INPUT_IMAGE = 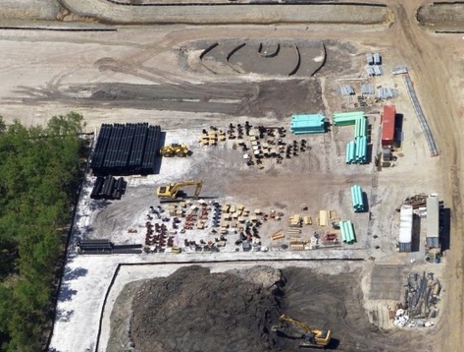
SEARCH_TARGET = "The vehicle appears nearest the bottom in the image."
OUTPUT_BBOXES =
[269,316,331,348]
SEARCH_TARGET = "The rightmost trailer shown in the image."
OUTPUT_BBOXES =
[426,190,440,247]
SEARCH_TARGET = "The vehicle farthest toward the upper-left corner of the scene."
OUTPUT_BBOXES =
[156,137,190,157]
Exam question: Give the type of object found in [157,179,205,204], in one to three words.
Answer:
work vehicle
